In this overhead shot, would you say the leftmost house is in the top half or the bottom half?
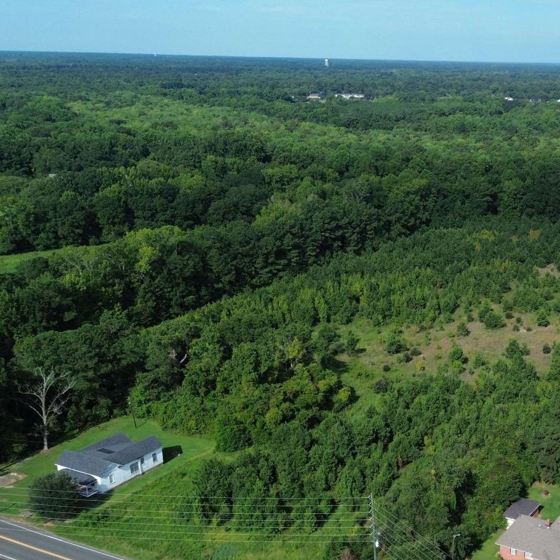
bottom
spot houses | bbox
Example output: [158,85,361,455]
[495,509,560,560]
[51,433,169,496]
